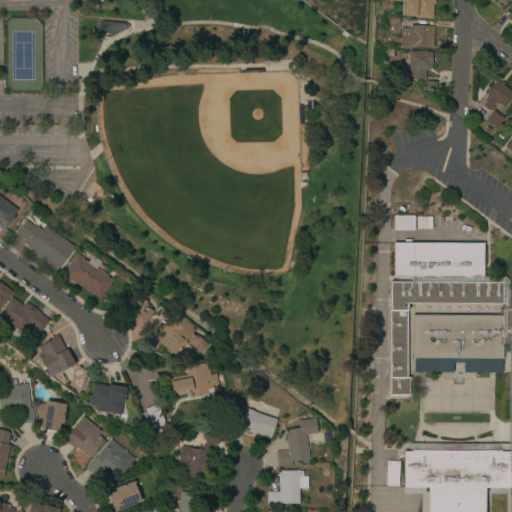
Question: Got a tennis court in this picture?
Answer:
Yes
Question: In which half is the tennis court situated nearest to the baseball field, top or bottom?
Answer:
top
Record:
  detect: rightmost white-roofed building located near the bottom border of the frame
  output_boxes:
[406,450,512,512]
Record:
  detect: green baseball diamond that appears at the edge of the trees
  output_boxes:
[98,72,302,274]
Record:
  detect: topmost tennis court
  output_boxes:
[8,19,43,90]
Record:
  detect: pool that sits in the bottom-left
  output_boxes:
[36,386,54,401]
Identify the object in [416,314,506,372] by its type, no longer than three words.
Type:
building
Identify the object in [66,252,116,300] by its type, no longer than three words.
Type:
house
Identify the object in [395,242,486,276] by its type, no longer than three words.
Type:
building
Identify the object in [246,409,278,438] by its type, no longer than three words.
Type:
house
